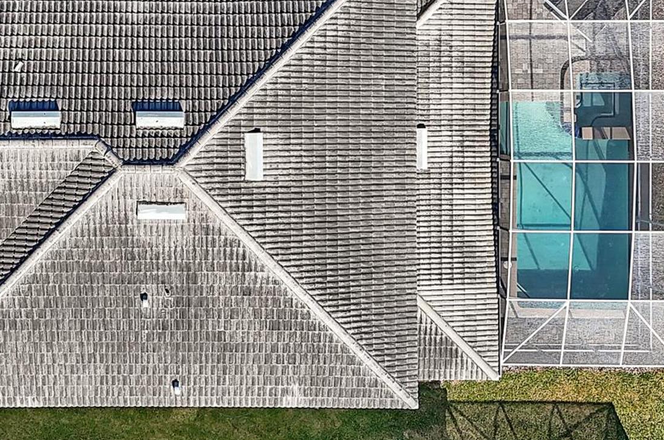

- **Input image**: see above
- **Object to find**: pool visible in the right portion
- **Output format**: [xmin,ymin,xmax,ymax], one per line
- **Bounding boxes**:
[501,55,640,317]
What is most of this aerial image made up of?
buildings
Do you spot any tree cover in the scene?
No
